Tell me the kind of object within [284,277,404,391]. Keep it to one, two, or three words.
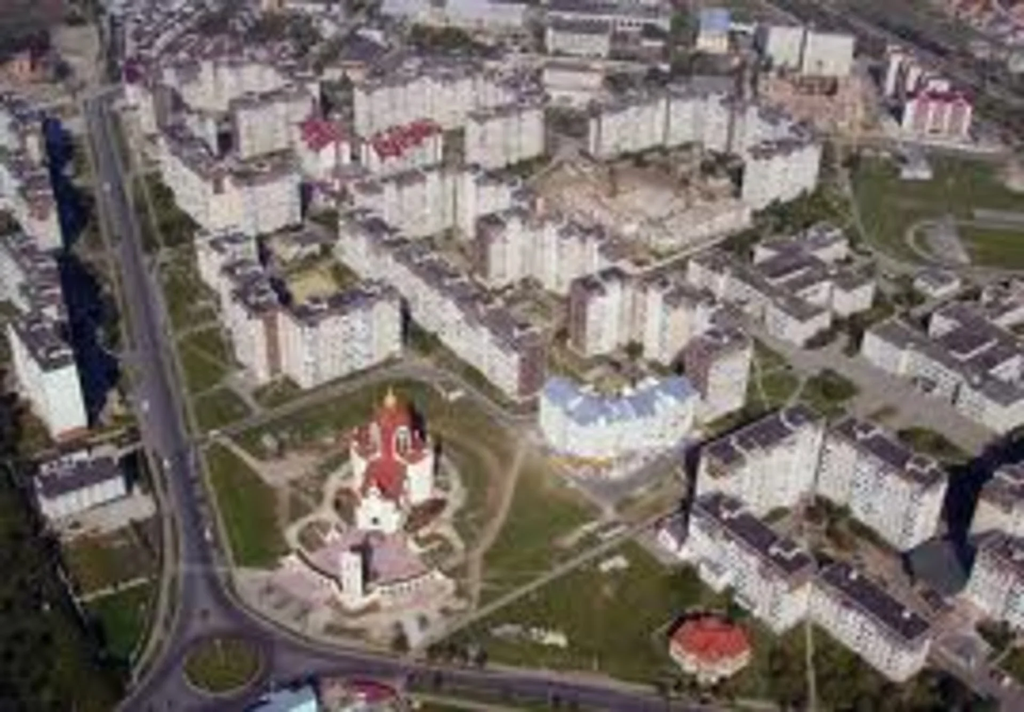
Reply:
building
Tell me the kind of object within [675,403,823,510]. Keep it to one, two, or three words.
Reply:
building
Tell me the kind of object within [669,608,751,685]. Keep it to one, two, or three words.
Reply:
house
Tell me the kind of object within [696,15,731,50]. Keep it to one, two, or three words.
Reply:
house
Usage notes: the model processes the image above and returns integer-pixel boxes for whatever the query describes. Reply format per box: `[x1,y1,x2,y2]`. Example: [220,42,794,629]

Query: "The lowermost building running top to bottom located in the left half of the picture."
[334,536,365,611]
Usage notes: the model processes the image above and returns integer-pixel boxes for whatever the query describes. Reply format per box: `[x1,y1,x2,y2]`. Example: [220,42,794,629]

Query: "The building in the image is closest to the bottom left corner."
[42,452,132,521]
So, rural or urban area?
urban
